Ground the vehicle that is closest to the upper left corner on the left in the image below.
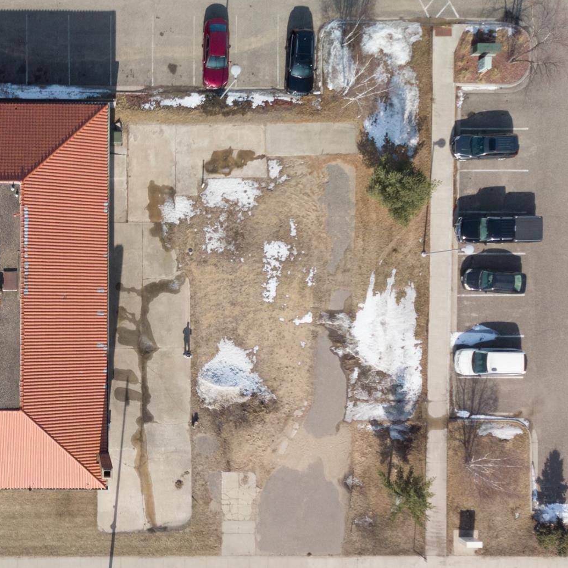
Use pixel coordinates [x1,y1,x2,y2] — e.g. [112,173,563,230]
[199,18,232,92]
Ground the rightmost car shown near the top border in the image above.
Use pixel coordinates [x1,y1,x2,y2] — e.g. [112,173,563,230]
[283,27,318,96]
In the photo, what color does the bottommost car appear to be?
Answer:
white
